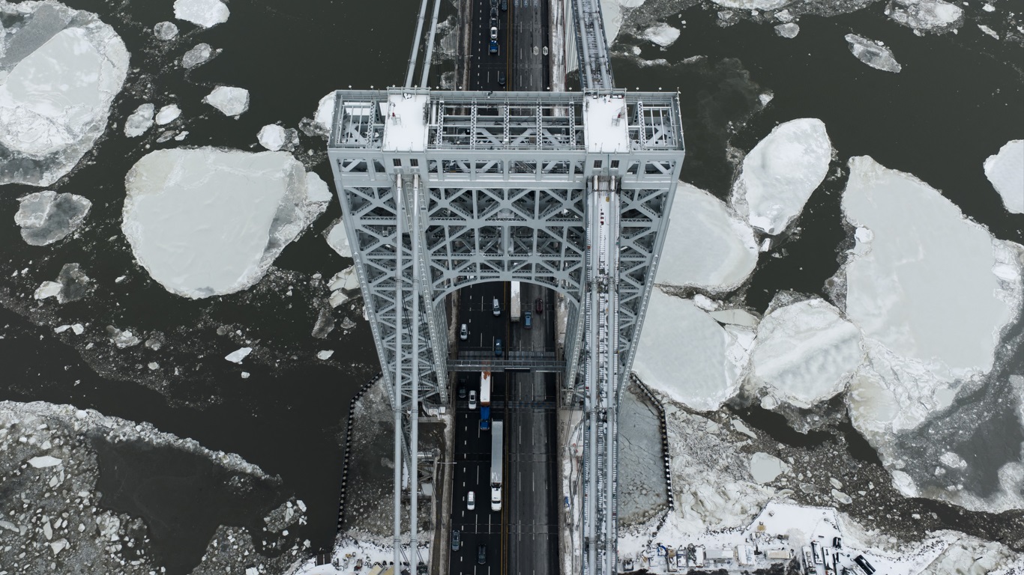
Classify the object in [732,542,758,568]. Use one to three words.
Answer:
shed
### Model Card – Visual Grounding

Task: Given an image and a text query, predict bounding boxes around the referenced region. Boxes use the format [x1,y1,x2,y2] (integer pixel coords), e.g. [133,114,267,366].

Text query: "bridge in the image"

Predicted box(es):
[325,0,687,575]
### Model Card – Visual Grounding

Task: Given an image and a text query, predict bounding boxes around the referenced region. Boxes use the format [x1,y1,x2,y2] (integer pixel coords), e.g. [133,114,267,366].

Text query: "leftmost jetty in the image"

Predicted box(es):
[308,548,333,570]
